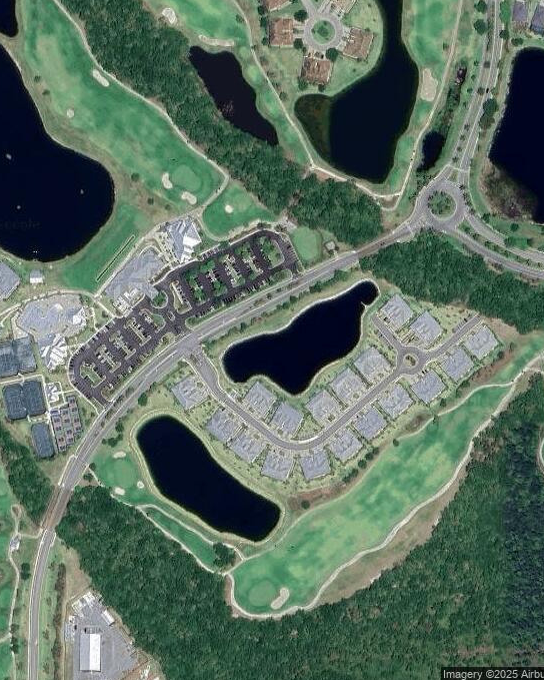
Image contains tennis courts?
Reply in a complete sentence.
Yes, the picture does show a tennis court.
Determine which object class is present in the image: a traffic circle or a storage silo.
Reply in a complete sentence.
Visible in the photo is a traffic circle.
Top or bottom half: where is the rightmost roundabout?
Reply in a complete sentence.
You can find the rightmost roundabout in the top half.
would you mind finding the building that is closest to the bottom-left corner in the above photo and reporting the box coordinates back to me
[80,634,101,671]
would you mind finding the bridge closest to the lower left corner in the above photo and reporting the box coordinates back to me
[38,485,72,532]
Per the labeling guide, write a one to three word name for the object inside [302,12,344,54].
roundabout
